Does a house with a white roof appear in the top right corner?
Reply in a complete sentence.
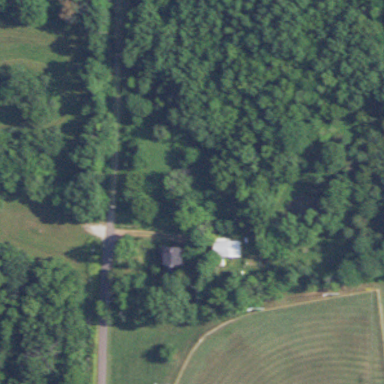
No, I see no house with a white roof in the top right corner.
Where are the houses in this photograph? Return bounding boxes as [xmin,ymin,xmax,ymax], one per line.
[214,239,242,258]
[163,248,185,268]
